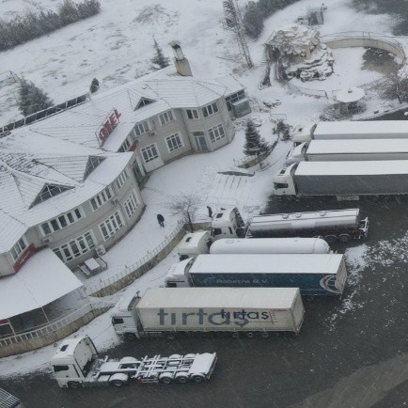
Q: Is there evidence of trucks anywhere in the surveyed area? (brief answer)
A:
Yes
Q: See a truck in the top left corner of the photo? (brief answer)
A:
No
